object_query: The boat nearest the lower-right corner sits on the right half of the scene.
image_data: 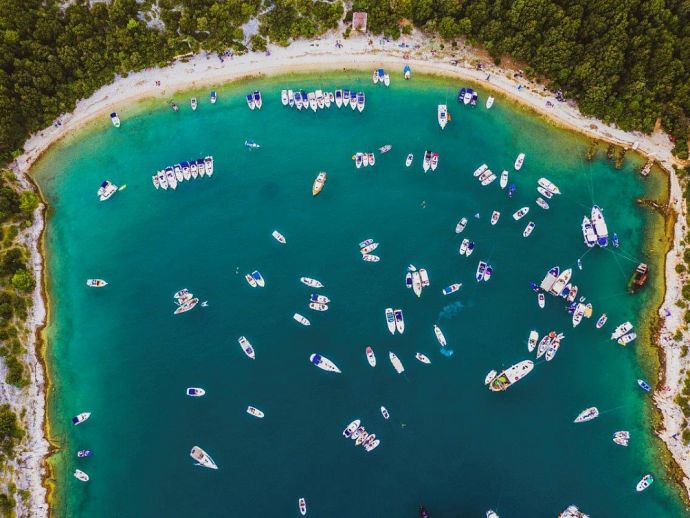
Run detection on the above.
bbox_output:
[637,473,656,492]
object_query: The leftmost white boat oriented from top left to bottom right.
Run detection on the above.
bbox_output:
[73,468,90,482]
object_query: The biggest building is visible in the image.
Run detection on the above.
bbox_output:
[352,11,368,40]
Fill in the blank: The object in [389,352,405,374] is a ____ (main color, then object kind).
white boat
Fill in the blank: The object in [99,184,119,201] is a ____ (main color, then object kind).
white boat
